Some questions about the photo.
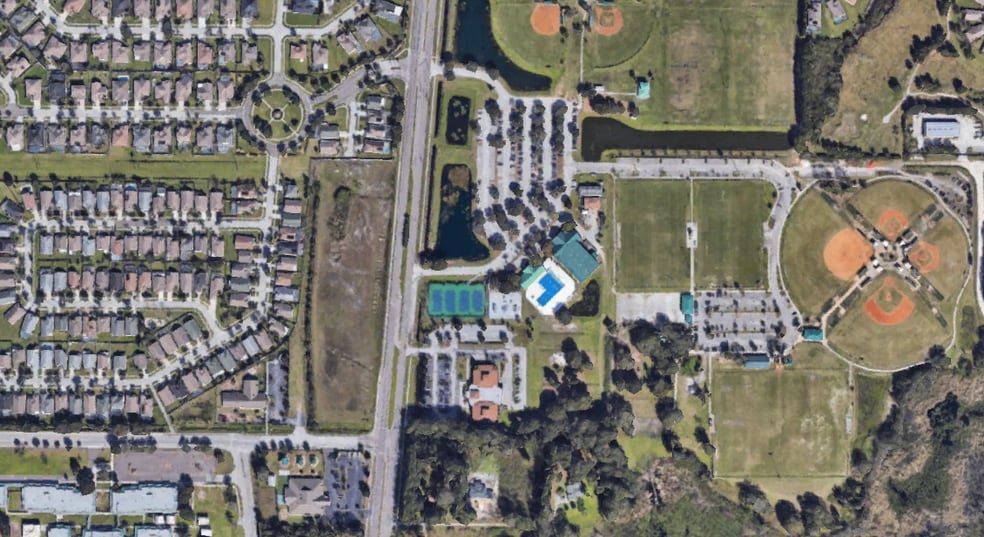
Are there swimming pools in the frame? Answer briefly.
Yes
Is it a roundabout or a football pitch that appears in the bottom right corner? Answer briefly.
football pitch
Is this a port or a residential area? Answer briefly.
residential area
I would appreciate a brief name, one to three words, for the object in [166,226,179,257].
house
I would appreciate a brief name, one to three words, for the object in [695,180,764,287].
soccer field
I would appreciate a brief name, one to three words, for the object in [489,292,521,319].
sports court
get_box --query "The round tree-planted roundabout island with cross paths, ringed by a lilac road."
[242,79,313,150]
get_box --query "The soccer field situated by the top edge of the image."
[664,12,790,122]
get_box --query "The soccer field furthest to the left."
[617,180,690,289]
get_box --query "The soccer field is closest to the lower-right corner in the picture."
[714,368,848,476]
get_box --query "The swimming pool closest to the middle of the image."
[526,258,576,315]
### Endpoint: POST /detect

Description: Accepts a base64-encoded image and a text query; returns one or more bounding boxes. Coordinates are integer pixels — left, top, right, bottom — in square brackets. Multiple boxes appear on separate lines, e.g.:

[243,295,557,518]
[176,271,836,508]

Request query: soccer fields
[664,12,790,122]
[617,180,690,289]
[695,180,764,287]
[714,368,848,476]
